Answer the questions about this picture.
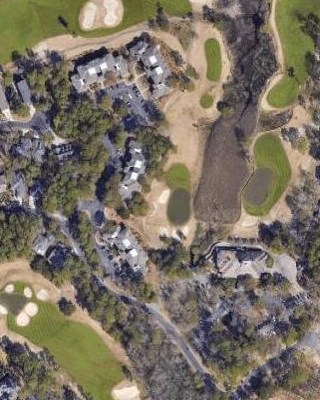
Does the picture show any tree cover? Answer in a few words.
Yes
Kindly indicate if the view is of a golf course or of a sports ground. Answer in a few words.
golf course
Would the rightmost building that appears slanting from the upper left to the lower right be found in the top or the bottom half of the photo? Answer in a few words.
top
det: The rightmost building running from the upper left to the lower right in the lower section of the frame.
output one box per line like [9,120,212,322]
[102,229,153,281]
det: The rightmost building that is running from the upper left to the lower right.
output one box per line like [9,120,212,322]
[128,42,174,99]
